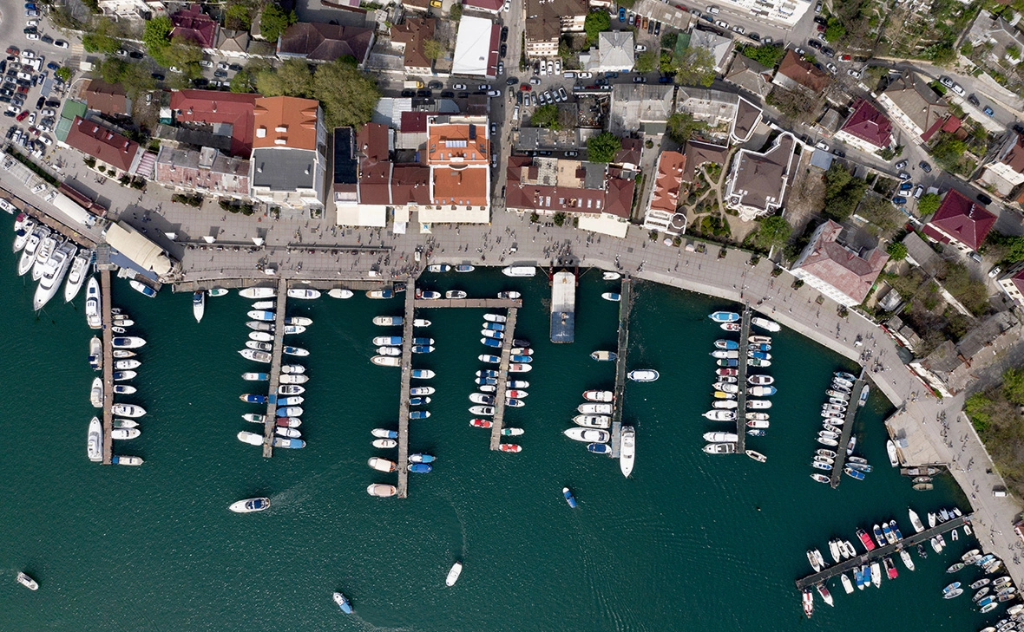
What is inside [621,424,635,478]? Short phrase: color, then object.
white boat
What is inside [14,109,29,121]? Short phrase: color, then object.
red vehicle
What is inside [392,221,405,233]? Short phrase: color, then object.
white umbrella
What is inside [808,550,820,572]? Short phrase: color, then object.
white boat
